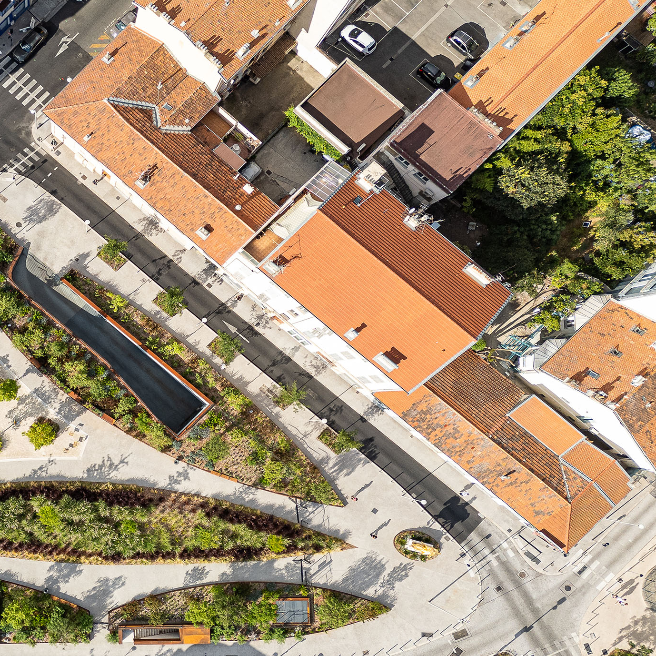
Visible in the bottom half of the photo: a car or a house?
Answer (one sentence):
It is a house that can be seen in the bottom half of the photo.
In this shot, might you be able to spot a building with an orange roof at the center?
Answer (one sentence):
Yes, looking at the center, one can make out a building with an orange roof.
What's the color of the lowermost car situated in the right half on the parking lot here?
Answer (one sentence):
The color of the lowermost car situated in the right half on the parking lot is black.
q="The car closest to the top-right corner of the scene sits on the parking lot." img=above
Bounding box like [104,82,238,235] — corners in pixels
[445,26,483,62]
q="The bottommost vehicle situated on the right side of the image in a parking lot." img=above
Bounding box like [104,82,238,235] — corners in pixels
[419,58,452,92]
